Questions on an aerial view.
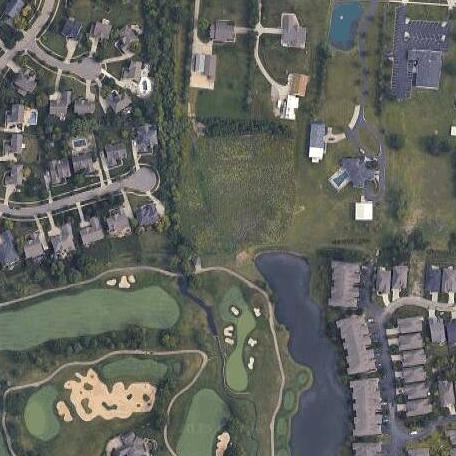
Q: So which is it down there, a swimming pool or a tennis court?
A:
swimming pool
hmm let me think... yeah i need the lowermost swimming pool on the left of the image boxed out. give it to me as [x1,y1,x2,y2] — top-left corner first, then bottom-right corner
[68,135,91,153]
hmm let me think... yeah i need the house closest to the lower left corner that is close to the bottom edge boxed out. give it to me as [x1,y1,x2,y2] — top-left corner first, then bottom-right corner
[117,430,153,456]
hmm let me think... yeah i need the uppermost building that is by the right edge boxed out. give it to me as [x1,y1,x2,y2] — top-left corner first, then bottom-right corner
[407,50,441,89]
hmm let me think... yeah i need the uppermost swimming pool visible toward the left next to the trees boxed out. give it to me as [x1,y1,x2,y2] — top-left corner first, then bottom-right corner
[139,76,152,96]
